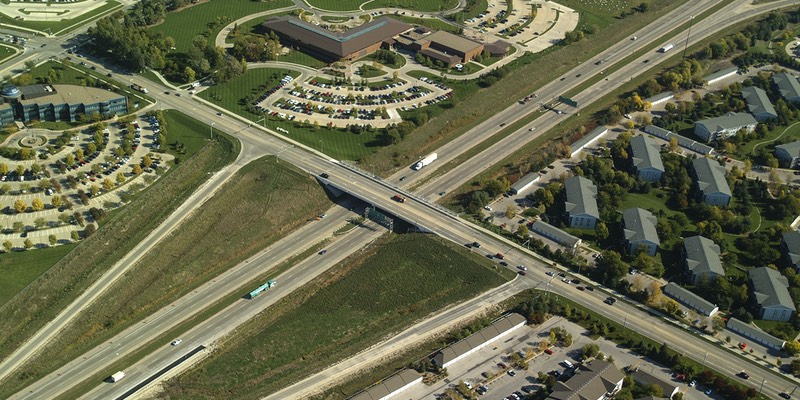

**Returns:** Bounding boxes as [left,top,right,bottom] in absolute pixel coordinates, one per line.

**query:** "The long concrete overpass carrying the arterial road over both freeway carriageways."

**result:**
[326,154,484,230]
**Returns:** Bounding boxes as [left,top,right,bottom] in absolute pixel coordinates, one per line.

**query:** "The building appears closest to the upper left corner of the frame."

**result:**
[0,84,129,132]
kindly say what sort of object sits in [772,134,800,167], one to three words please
building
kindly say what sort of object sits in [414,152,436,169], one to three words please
vehicle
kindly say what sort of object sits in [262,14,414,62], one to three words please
building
